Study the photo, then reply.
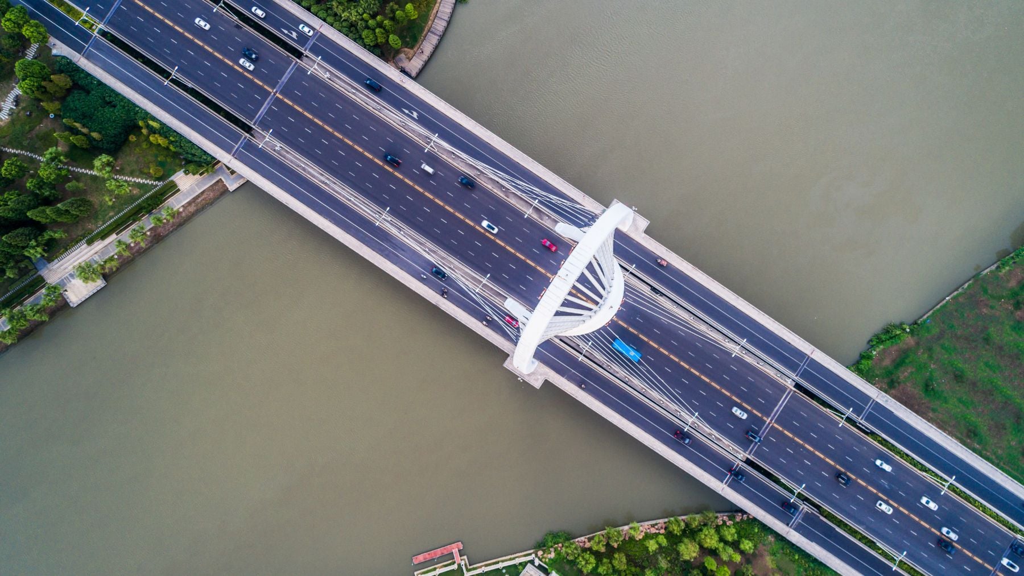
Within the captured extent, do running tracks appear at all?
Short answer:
No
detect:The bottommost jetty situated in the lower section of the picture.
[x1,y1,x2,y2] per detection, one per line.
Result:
[411,541,463,568]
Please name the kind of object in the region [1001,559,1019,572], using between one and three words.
vehicle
